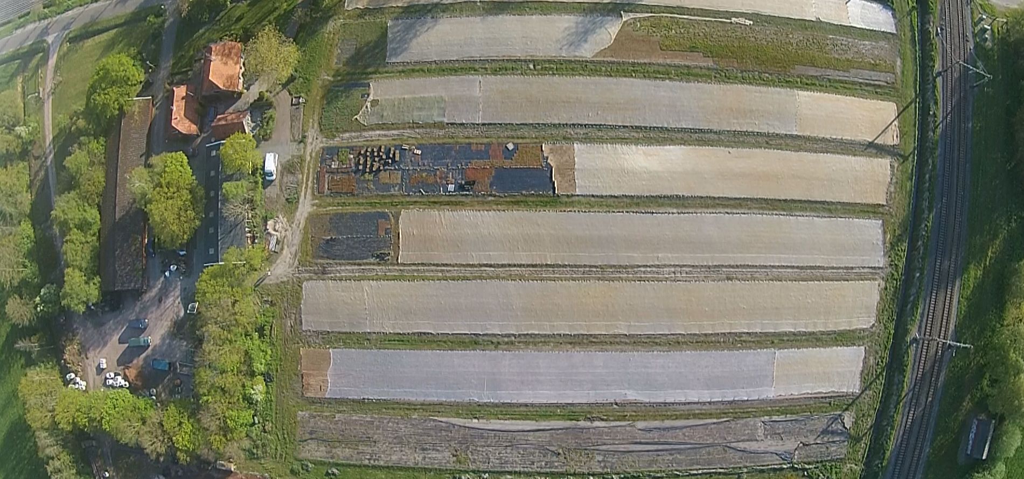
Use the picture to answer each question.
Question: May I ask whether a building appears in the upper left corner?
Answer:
Yes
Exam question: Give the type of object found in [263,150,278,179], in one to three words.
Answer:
vehicle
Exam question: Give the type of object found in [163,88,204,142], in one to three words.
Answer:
house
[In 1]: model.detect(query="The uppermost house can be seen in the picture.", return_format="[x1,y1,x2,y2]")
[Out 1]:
[198,46,247,102]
